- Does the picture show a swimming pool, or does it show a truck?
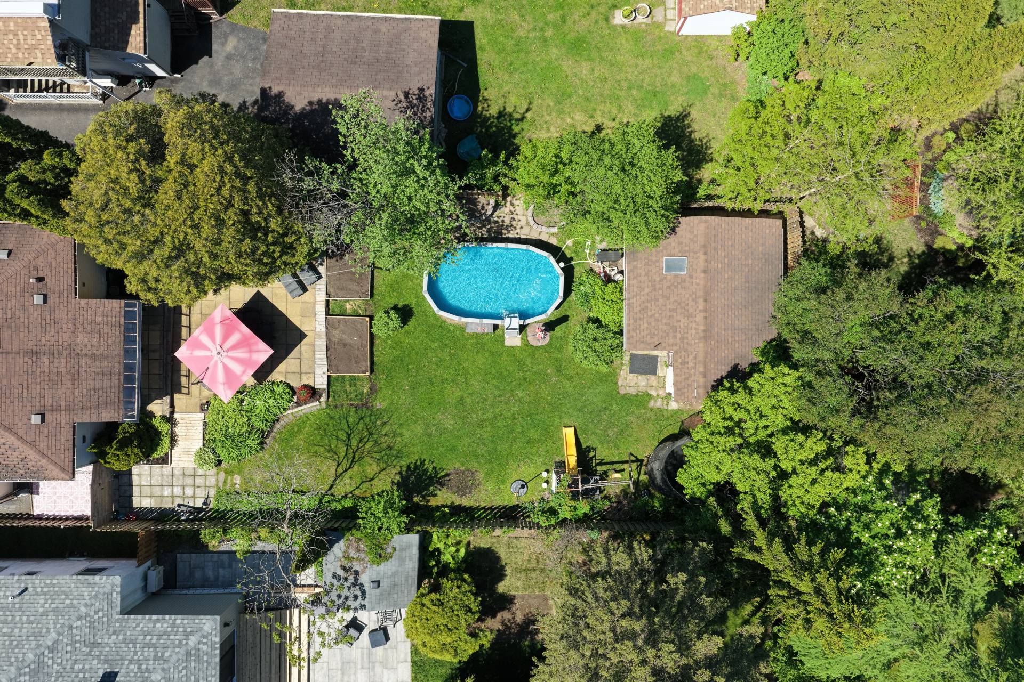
swimming pool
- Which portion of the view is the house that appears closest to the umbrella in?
left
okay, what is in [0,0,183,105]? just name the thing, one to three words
house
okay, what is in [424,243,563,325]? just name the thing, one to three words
swimming pool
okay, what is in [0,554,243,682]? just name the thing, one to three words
house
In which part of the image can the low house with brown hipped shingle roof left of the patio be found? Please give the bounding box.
[0,225,159,484]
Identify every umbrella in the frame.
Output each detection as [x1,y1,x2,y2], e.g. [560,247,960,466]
[169,304,273,402]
